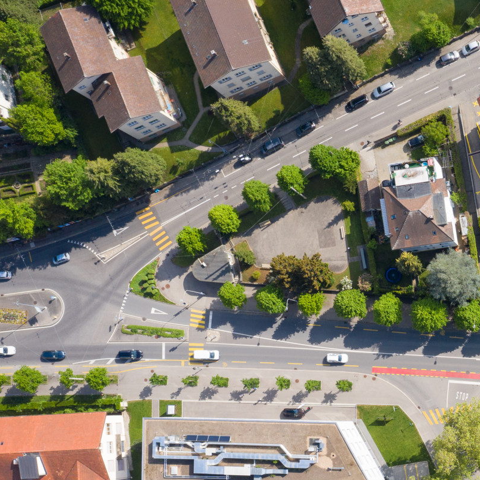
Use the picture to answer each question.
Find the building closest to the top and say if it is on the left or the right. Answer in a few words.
right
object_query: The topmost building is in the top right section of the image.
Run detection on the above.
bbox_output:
[306,0,394,45]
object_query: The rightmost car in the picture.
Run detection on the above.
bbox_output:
[460,40,480,56]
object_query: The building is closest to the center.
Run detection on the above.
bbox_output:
[192,245,241,285]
